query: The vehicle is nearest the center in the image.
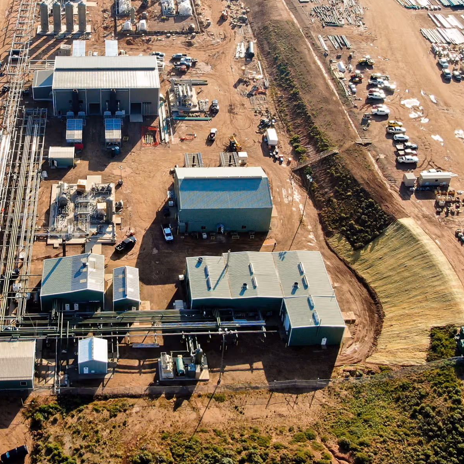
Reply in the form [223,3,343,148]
[160,220,175,242]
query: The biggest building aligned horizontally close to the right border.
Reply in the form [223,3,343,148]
[416,172,453,187]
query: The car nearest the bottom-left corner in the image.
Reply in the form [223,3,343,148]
[0,439,32,462]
